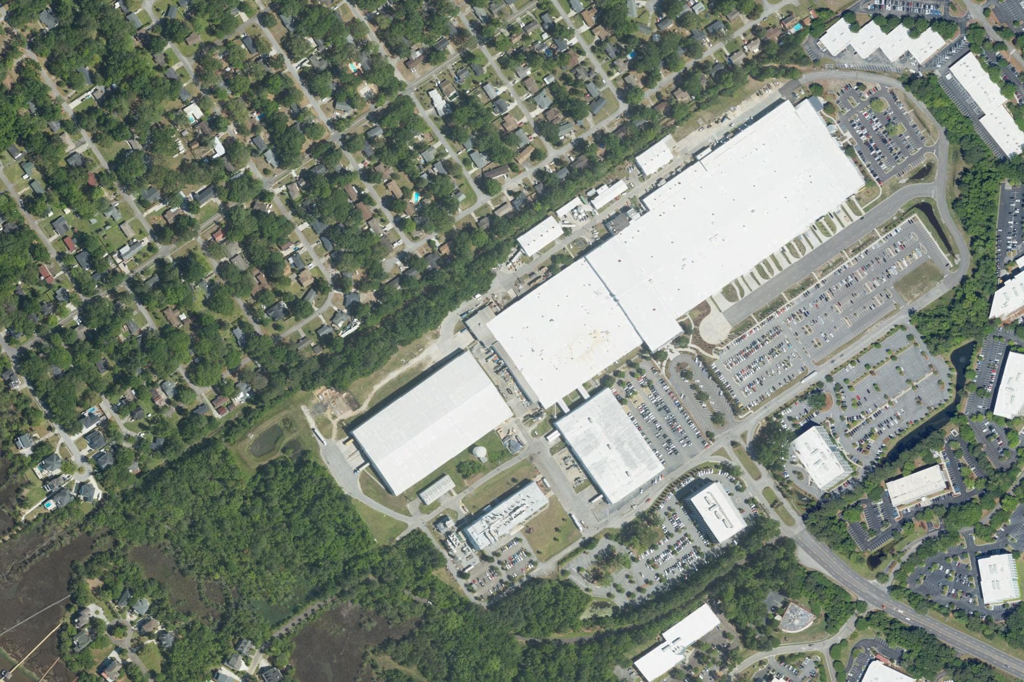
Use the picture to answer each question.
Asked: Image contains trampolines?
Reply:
No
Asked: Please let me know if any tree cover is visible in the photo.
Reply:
Yes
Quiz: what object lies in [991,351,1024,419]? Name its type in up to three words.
building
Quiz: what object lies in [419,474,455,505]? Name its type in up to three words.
shed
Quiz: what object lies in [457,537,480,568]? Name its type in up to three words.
house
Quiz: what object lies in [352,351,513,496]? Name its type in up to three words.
warehouse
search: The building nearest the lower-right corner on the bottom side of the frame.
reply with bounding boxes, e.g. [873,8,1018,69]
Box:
[975,552,1024,605]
